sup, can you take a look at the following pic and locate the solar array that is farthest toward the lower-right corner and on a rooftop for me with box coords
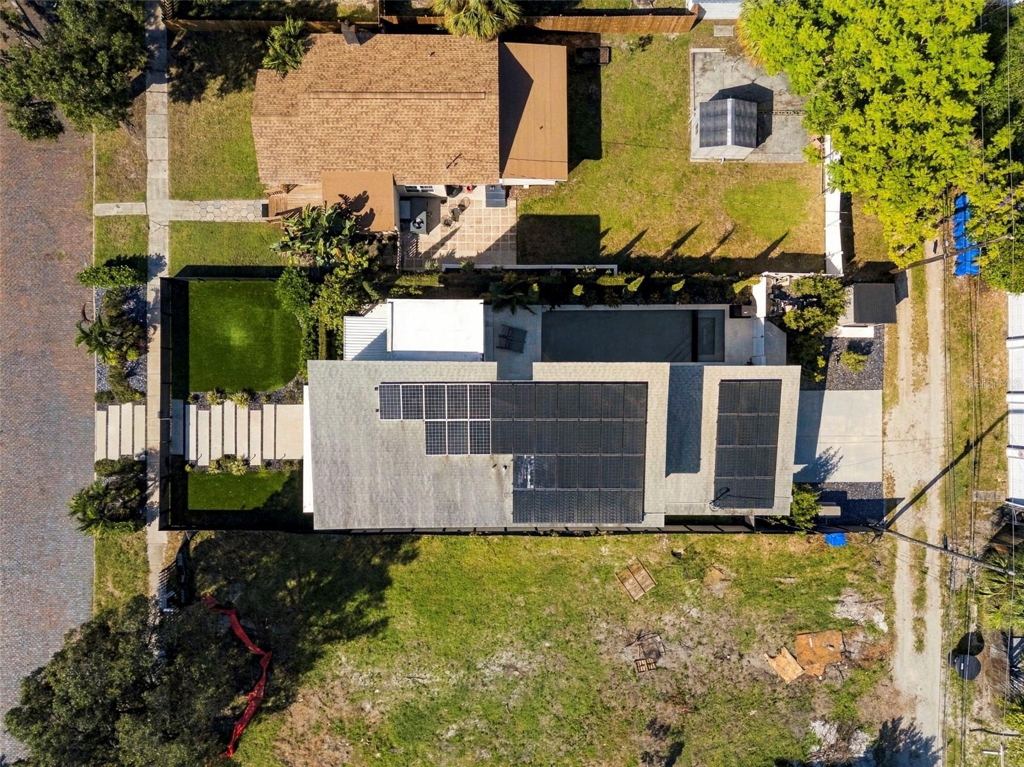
[713,380,783,510]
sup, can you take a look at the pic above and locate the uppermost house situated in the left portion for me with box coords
[250,20,568,241]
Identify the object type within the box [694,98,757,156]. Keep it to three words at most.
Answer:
shed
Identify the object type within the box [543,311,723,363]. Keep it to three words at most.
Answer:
swimming pool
